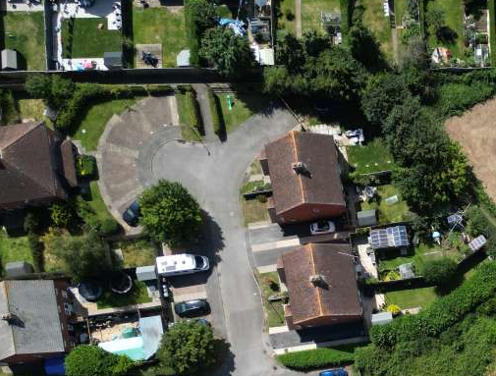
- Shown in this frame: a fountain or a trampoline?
trampoline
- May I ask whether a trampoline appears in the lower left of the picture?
Yes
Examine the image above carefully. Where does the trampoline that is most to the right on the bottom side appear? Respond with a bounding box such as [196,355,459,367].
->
[112,274,133,294]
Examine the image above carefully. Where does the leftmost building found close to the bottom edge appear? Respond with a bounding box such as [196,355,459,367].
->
[0,277,81,365]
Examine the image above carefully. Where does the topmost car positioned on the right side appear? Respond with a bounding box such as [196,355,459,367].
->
[307,220,339,237]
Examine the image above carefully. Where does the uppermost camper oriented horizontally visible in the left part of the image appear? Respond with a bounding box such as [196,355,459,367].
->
[157,255,211,277]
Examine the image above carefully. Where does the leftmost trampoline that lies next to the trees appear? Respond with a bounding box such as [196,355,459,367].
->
[78,281,104,304]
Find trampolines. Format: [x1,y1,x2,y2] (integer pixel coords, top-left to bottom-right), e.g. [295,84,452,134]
[78,281,104,304]
[112,274,133,294]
